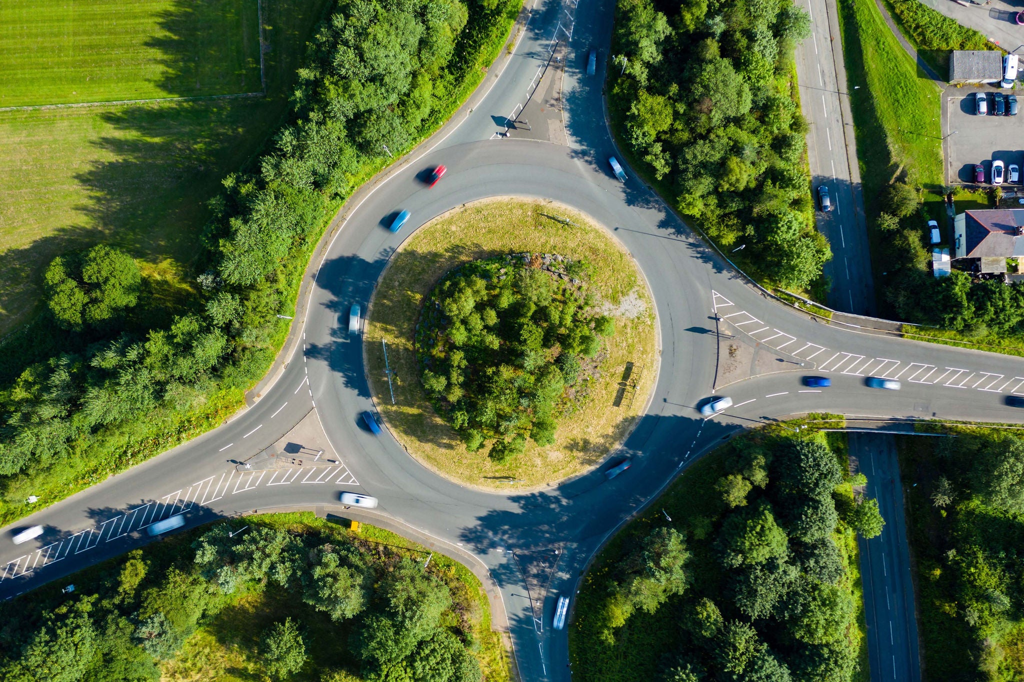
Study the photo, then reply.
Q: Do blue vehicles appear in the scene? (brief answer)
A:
Yes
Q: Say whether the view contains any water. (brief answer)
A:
No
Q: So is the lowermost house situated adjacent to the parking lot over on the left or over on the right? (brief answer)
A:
right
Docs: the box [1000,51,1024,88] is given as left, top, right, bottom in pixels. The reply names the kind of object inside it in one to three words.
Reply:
vehicle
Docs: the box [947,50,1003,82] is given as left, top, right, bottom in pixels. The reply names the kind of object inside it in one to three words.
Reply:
building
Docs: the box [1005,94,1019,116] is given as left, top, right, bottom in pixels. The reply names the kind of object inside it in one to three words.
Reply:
car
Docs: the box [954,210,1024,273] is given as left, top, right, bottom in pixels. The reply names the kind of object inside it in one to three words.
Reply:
house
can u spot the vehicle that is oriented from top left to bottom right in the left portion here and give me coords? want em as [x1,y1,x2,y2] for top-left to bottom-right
[363,411,383,434]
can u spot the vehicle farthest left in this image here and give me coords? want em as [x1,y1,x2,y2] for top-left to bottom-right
[14,525,42,543]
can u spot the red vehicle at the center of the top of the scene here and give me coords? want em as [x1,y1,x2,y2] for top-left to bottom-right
[428,166,447,189]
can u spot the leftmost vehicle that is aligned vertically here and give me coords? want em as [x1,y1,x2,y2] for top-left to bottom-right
[348,306,360,332]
